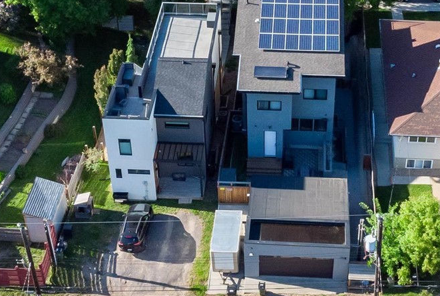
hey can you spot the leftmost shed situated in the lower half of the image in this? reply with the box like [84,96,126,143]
[23,177,68,240]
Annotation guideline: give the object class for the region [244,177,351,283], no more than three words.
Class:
building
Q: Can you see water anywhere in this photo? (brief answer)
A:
No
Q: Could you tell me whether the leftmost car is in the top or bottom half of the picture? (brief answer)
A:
bottom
